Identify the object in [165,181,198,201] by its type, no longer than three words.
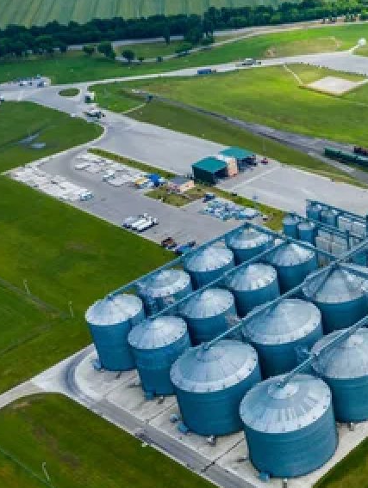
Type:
shed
